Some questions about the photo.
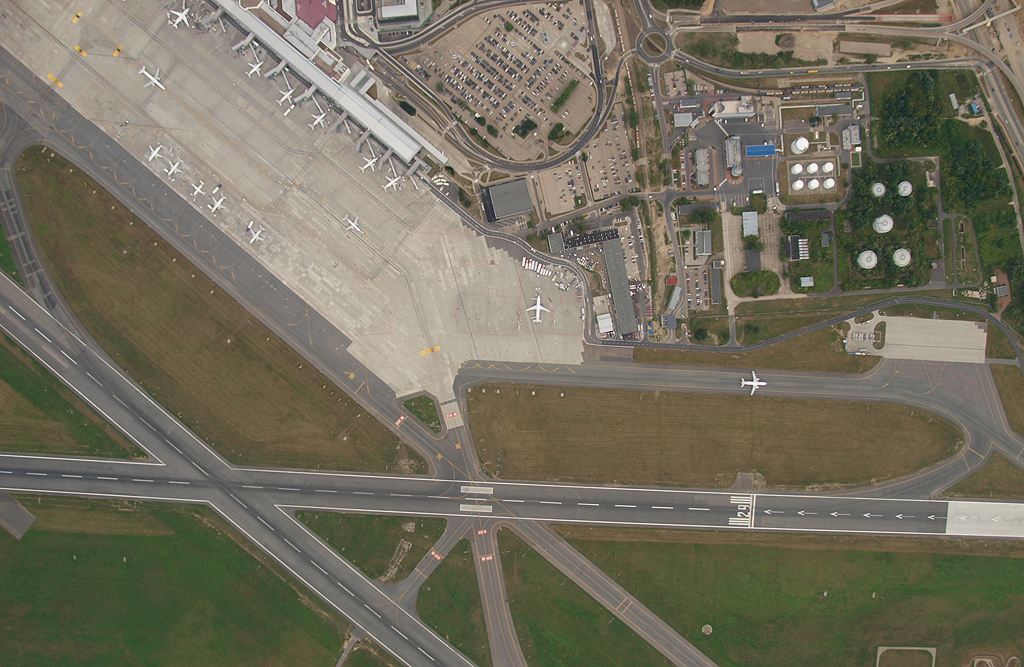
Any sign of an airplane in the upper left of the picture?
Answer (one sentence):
Yes, an airplane shows up in the upper left of the picture.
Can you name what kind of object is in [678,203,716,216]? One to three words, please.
building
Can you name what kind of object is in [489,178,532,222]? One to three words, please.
hangar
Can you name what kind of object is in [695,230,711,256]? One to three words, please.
building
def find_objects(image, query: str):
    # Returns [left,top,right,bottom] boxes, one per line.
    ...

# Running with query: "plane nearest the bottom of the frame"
[741,371,767,396]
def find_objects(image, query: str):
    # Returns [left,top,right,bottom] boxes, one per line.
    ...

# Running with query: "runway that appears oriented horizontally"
[0,455,1024,537]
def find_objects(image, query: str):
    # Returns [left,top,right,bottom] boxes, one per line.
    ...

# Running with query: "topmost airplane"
[170,9,190,30]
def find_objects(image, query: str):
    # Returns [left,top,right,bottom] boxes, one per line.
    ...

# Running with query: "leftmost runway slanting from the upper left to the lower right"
[0,270,476,667]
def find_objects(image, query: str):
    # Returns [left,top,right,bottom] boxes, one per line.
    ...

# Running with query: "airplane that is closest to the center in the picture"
[526,295,550,323]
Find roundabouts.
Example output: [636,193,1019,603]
[634,25,675,65]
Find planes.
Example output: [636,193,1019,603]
[138,65,165,90]
[250,225,266,244]
[741,371,767,396]
[308,113,326,130]
[168,157,184,176]
[342,215,365,234]
[359,156,381,173]
[211,194,227,213]
[381,177,401,192]
[526,295,550,323]
[170,9,190,30]
[149,143,164,161]
[275,88,295,106]
[245,62,263,78]
[189,180,205,196]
